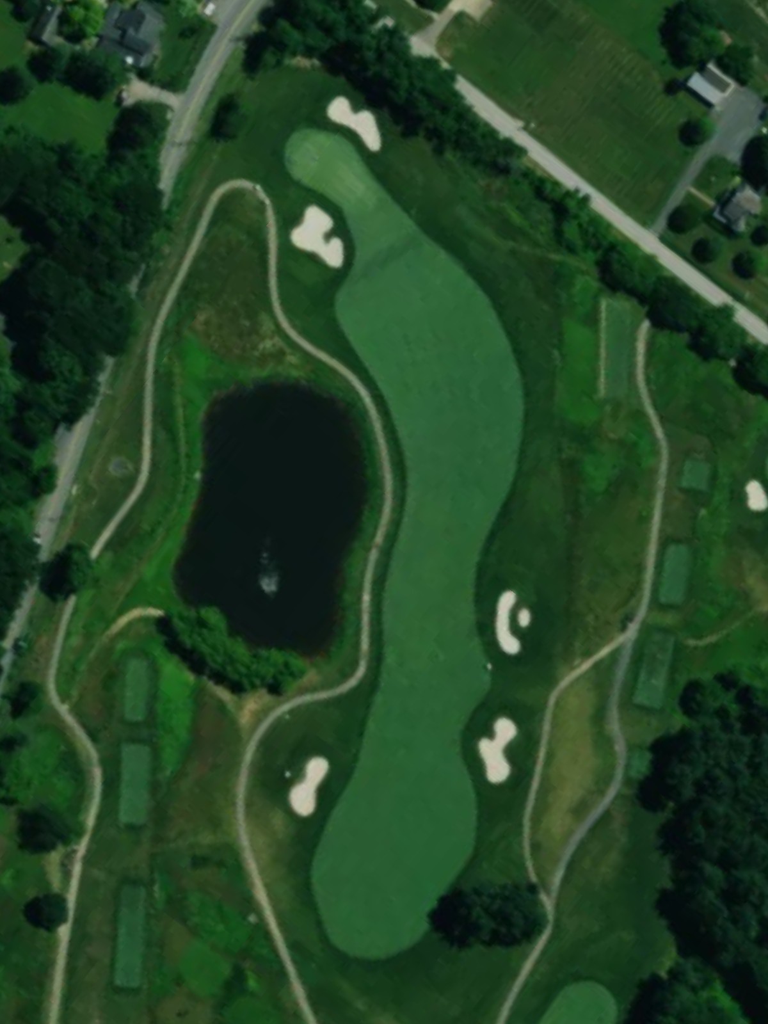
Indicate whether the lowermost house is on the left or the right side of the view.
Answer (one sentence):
The lowermost house appears in the right half of the scene.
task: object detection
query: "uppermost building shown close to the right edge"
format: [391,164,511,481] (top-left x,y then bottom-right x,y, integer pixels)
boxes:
[689,60,735,105]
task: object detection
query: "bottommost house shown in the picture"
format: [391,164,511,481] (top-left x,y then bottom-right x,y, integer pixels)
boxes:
[709,181,768,231]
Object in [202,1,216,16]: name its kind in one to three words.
vehicle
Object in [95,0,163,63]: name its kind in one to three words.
house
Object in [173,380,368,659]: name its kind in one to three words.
pond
